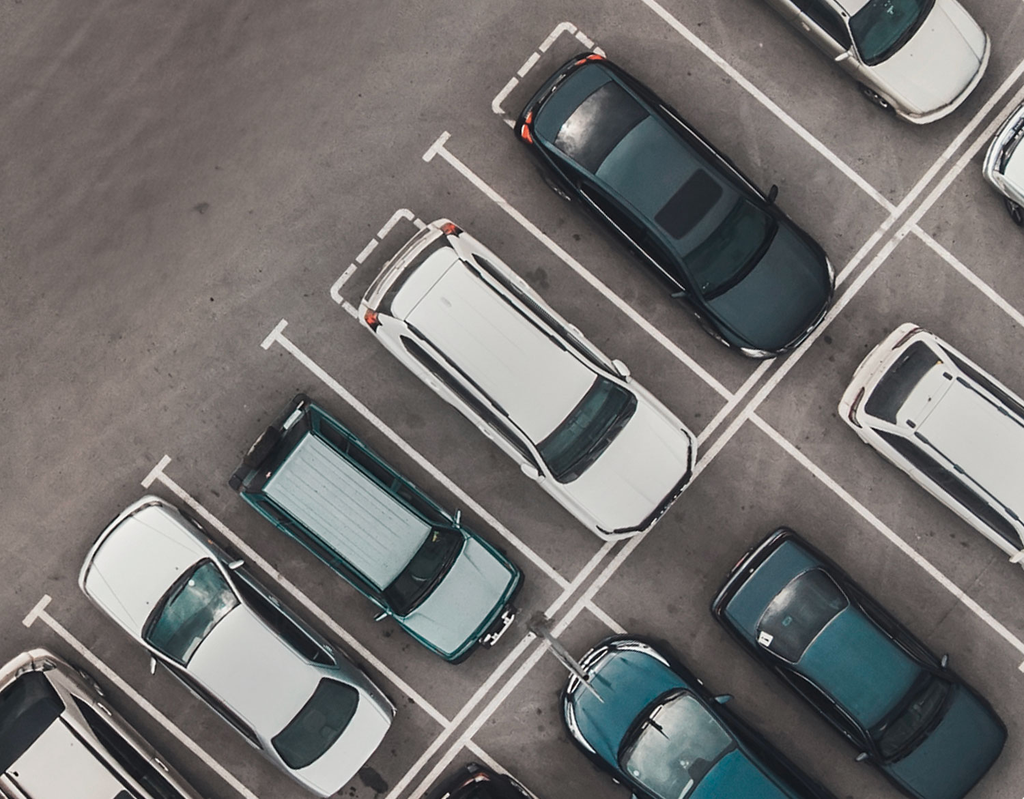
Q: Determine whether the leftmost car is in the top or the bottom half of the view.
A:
bottom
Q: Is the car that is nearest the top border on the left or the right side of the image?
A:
right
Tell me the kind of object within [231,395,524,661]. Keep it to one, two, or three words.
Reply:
car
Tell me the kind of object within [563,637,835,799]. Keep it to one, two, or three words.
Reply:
car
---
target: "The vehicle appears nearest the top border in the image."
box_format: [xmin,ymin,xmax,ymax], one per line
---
[763,0,989,123]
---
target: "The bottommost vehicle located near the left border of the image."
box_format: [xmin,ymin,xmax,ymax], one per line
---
[0,648,211,799]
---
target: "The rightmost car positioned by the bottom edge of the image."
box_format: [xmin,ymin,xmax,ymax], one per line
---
[710,528,1007,799]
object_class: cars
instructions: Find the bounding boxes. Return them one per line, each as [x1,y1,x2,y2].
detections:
[79,496,392,798]
[981,108,1024,222]
[231,395,524,661]
[710,528,1007,799]
[431,762,536,799]
[0,648,211,799]
[763,0,989,123]
[515,52,833,359]
[563,637,835,799]
[359,219,697,541]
